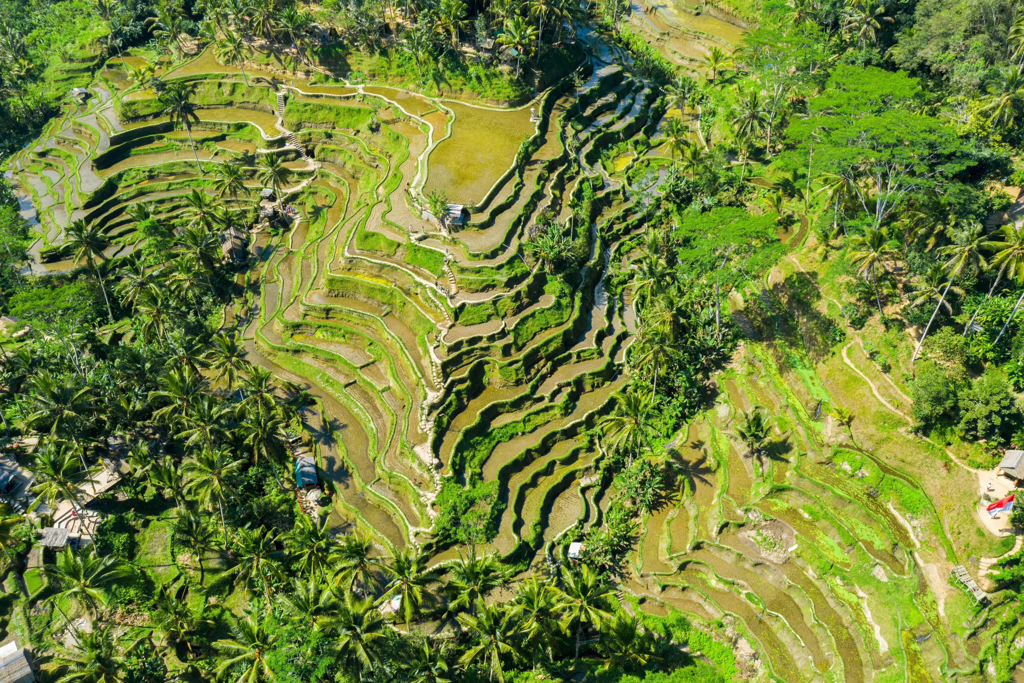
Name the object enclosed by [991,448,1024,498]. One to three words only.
building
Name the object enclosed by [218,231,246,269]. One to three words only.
shed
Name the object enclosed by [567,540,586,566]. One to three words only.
shed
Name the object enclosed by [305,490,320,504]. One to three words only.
umbrella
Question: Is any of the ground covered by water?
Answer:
Yes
